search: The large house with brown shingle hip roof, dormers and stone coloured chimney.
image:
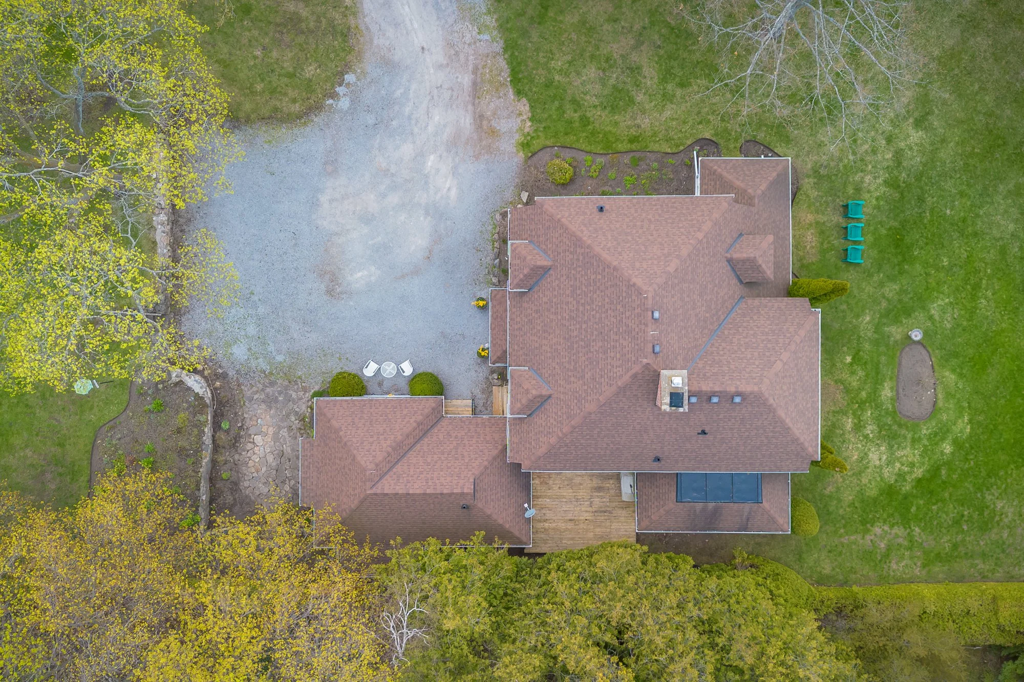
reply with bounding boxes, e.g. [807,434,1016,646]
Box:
[489,151,823,533]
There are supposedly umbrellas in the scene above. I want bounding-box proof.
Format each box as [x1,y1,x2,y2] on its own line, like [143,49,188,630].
[78,378,97,395]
